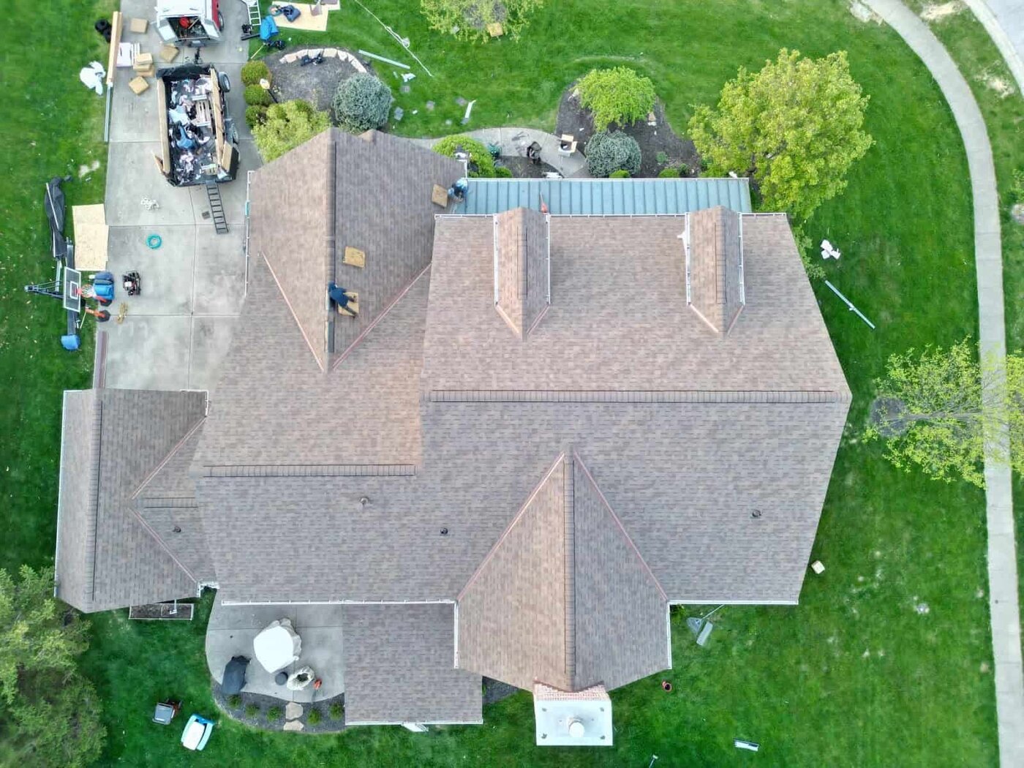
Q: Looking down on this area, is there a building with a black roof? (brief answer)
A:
No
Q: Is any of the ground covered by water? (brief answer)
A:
No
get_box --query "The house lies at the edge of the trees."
[52,128,851,747]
